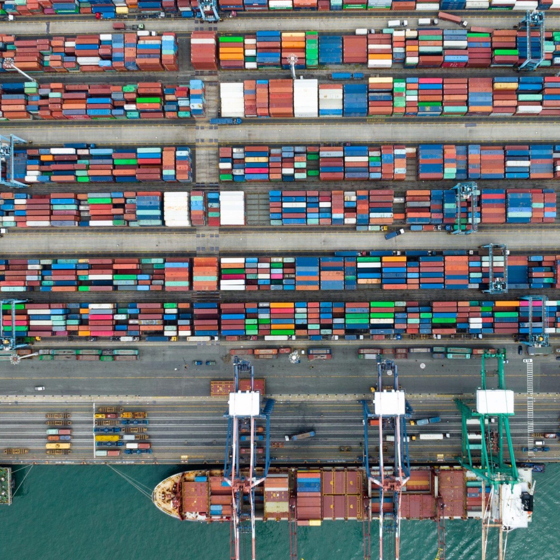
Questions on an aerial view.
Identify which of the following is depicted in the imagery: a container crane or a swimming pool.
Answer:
container crane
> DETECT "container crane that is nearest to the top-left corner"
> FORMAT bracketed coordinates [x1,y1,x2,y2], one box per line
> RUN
[0,134,35,190]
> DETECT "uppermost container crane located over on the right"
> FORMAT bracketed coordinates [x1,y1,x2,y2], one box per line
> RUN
[512,9,546,73]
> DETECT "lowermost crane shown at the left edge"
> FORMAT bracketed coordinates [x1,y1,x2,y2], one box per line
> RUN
[0,298,36,349]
